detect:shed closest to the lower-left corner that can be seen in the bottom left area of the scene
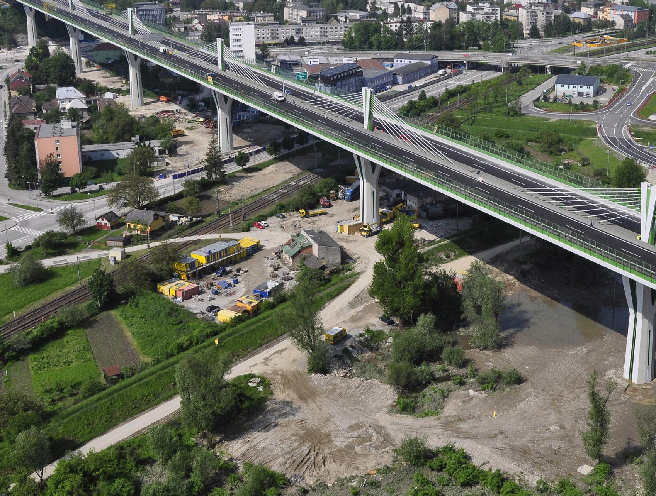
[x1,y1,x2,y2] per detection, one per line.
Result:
[99,361,122,381]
